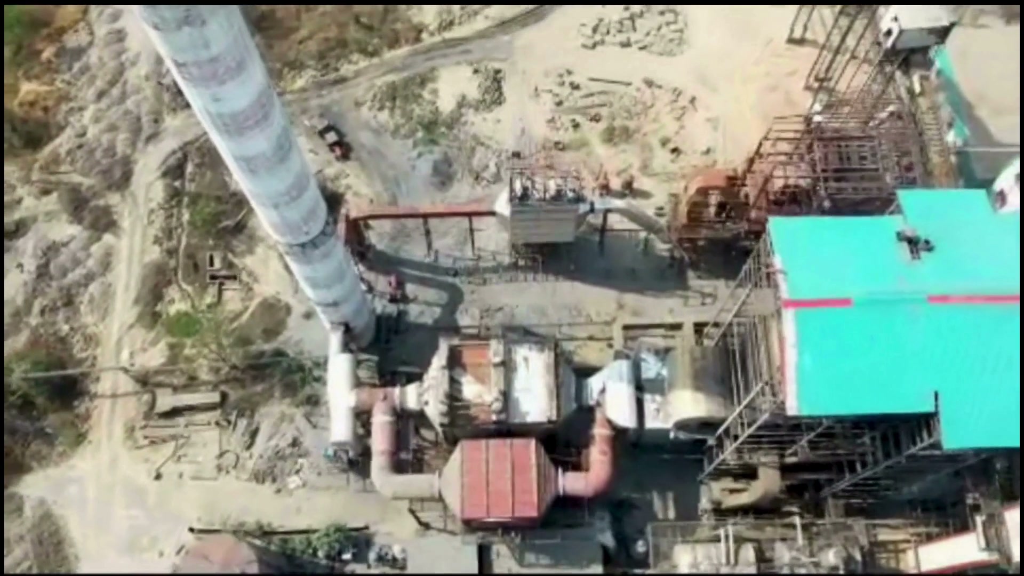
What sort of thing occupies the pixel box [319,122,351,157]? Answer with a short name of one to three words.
work vehicle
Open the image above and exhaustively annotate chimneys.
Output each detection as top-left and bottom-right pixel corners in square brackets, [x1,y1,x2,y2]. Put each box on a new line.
[125,0,379,357]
